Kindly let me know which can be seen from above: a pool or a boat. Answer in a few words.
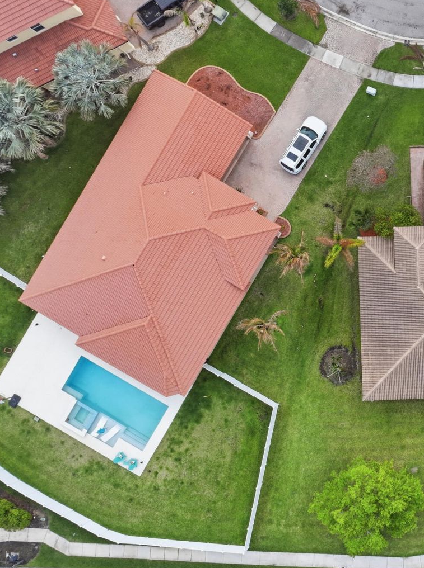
pool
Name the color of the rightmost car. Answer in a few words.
white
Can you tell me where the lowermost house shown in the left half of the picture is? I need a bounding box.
[19,69,284,397]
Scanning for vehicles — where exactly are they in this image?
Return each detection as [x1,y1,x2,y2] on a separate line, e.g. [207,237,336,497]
[134,0,198,31]
[280,116,325,176]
